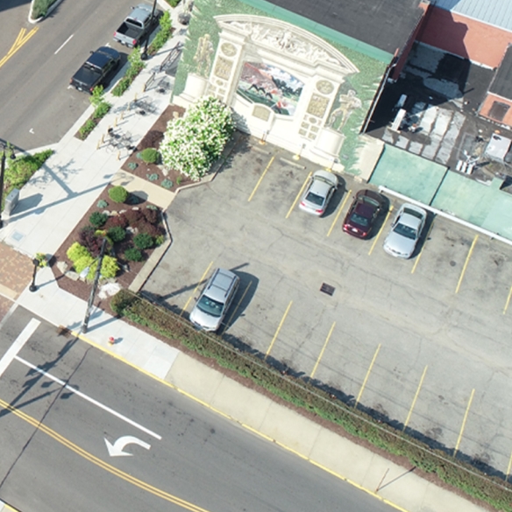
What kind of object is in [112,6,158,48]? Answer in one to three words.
truck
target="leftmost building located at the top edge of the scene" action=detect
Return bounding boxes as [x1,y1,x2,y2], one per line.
[171,0,424,174]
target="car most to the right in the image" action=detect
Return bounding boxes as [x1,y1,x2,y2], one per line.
[384,205,428,259]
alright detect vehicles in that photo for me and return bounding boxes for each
[112,6,158,48]
[342,193,386,241]
[384,205,428,259]
[189,266,240,331]
[68,49,121,95]
[297,173,338,218]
